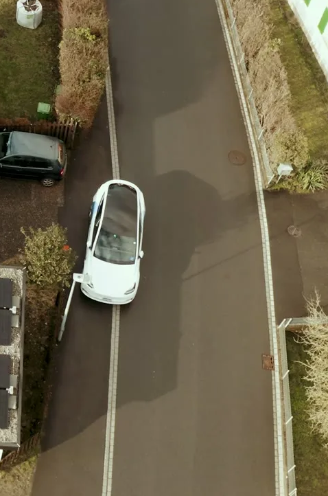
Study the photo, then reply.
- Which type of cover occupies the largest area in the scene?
paved ground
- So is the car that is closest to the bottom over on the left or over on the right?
left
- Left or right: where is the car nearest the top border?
left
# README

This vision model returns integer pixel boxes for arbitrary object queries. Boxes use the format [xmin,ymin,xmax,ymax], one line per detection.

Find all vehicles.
[79,181,146,307]
[0,136,66,190]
